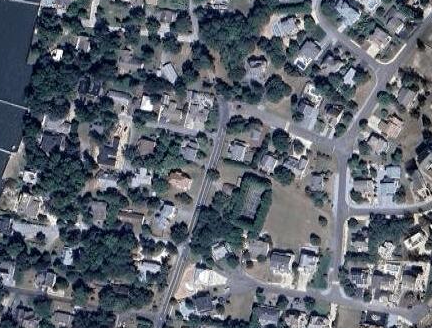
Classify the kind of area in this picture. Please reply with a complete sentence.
The area seen from above is a residential area.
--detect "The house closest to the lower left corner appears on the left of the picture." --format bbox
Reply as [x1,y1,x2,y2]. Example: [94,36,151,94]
[16,304,41,328]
